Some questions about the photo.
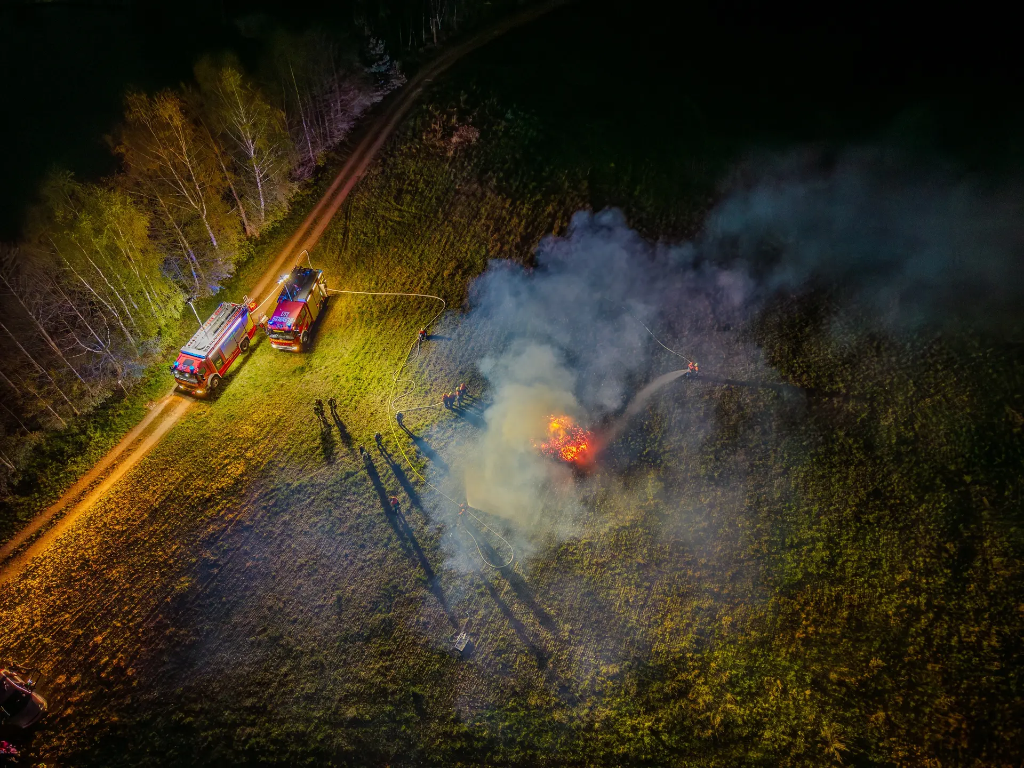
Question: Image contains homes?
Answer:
No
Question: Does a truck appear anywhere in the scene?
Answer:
Yes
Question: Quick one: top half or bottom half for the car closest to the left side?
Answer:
bottom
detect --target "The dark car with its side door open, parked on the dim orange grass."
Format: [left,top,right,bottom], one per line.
[0,665,53,730]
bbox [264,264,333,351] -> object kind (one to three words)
truck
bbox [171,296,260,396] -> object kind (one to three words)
truck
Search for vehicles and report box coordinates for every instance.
[264,264,333,351]
[0,665,53,730]
[171,296,260,396]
